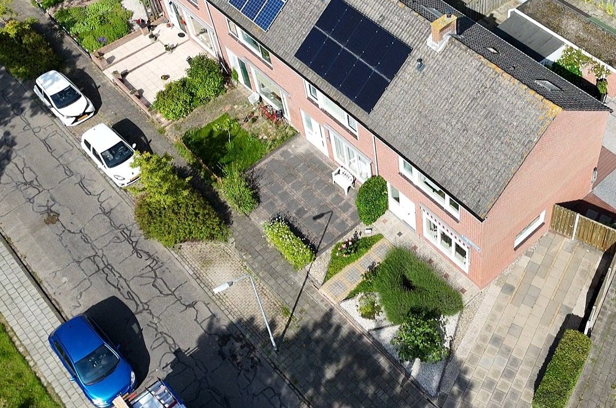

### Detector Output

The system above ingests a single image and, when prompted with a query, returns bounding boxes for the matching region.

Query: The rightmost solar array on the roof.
[292,0,410,112]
